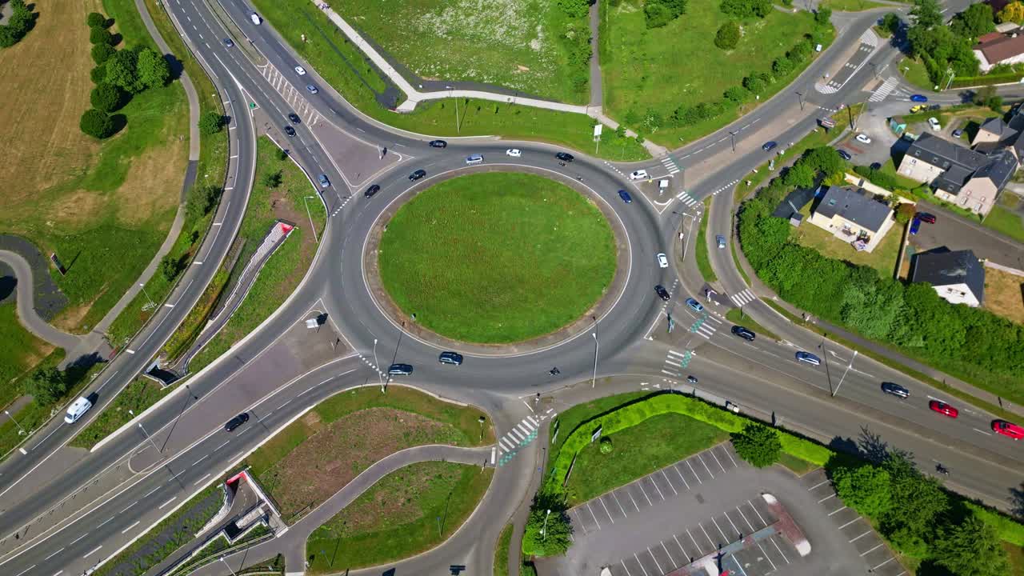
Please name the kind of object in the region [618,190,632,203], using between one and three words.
vehicle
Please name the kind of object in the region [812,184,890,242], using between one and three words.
house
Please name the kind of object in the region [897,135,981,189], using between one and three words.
house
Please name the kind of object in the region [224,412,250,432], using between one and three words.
car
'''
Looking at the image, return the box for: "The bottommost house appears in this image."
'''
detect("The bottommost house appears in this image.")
[918,249,987,305]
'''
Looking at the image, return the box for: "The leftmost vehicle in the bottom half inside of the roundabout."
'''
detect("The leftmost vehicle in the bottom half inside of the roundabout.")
[388,363,413,376]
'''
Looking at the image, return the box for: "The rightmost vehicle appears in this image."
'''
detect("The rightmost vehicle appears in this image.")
[993,422,1022,439]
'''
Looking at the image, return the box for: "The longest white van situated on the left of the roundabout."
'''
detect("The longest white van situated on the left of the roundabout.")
[63,392,96,425]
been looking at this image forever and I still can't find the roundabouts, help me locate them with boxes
[277,122,708,433]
